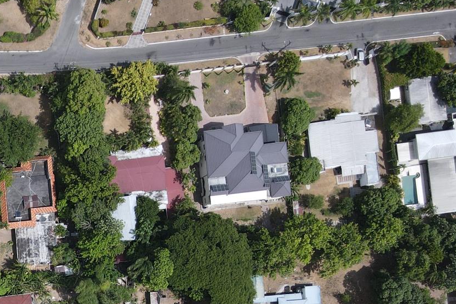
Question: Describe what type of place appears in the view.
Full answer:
The picture captures a residential area.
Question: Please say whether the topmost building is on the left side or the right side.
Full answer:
The topmost building is on the right side of the image.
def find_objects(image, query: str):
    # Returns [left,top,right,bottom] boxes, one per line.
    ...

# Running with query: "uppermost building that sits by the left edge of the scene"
[0,156,57,265]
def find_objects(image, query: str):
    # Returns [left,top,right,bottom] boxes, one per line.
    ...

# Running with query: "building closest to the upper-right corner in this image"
[385,77,448,127]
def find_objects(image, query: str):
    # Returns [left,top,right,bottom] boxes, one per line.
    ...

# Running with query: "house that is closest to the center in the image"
[196,123,291,210]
